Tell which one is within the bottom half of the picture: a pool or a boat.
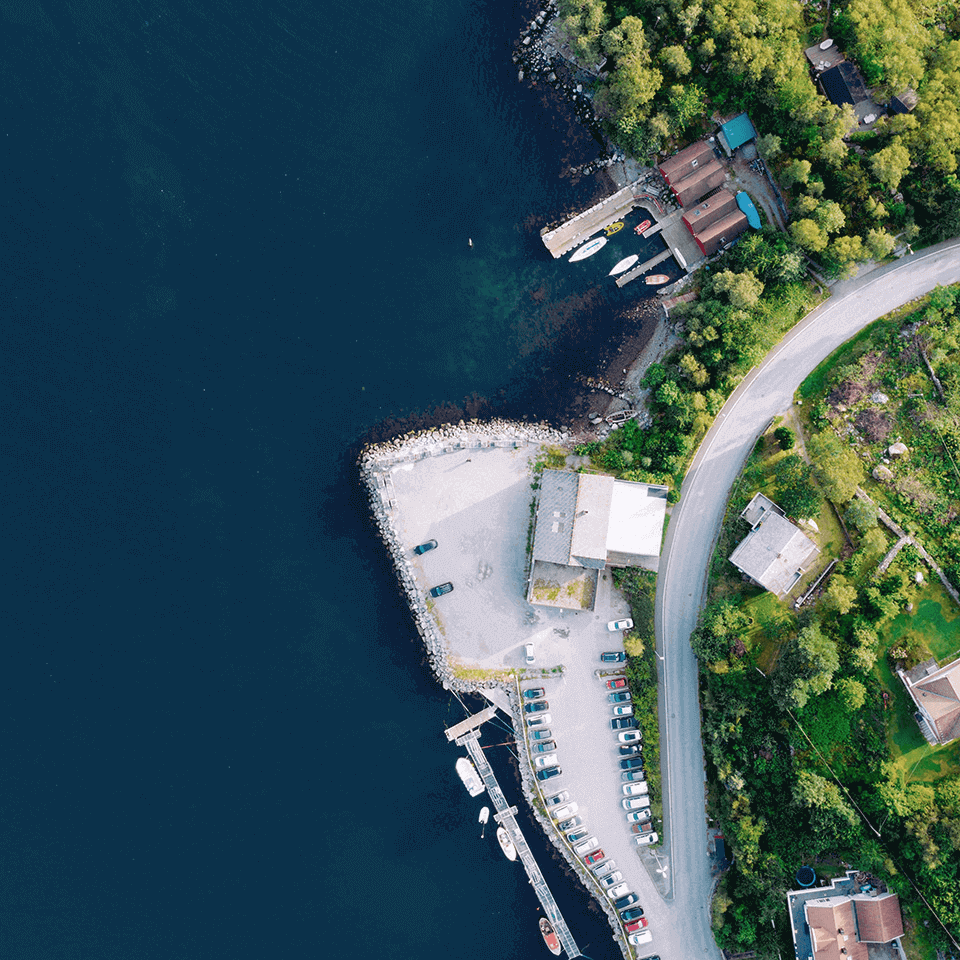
boat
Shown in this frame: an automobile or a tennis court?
automobile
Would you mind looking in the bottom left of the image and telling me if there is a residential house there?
No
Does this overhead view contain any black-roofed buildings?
Yes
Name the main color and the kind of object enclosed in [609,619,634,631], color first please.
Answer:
white vehicle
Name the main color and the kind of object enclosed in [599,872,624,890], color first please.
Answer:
white car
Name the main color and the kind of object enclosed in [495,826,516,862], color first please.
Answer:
white boat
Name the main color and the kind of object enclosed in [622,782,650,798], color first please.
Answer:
white vehicle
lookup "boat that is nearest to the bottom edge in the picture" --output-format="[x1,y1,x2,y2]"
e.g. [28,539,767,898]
[536,916,560,958]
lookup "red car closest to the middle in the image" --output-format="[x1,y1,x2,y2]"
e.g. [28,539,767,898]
[606,678,629,691]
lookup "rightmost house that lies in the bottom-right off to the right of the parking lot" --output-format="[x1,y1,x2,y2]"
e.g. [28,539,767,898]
[899,654,960,744]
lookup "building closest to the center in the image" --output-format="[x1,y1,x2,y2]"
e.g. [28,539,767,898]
[532,470,614,569]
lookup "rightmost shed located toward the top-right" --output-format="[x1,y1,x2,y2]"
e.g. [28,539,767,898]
[886,86,917,116]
